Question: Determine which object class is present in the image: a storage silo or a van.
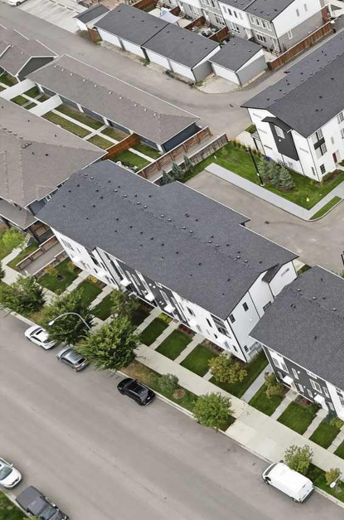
van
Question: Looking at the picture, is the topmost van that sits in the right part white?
Yes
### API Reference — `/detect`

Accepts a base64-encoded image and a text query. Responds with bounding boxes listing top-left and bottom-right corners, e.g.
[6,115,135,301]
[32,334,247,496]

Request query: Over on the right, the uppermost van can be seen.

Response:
[259,463,315,506]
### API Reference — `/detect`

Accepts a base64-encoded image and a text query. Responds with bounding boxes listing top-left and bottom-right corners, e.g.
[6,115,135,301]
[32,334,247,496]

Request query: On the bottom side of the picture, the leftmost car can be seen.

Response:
[0,461,24,490]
